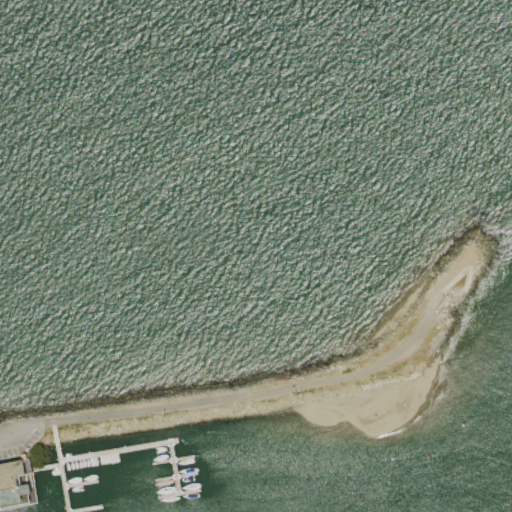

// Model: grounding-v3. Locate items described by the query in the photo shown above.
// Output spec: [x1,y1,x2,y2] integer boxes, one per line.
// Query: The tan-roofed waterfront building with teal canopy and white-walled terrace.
[0,451,37,511]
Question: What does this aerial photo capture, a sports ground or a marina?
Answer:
marina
